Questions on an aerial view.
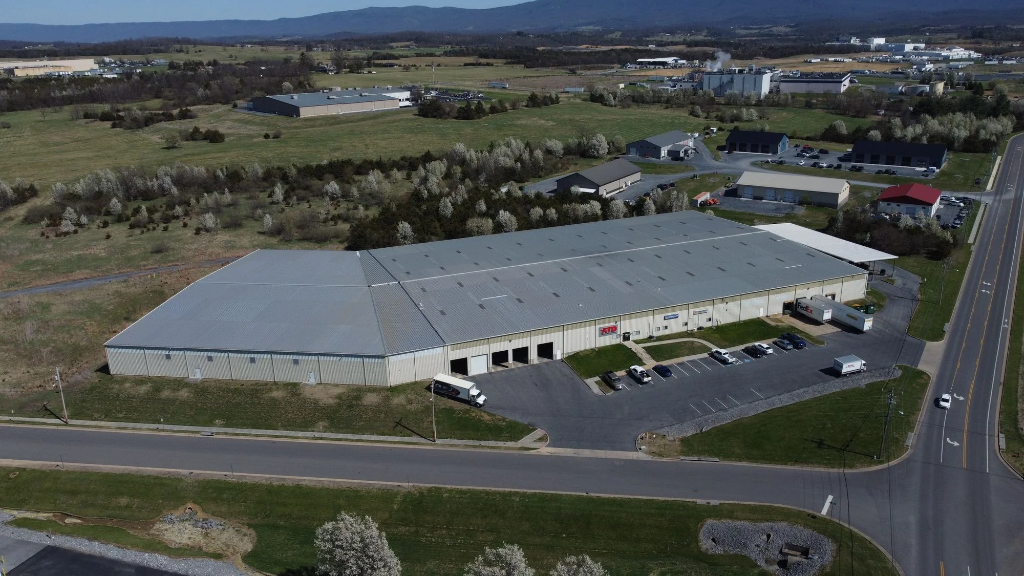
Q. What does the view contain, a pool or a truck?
truck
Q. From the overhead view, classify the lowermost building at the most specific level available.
warehouse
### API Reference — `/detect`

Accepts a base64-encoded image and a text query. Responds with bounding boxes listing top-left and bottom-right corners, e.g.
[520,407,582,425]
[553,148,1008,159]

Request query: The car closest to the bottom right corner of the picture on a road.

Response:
[938,391,952,409]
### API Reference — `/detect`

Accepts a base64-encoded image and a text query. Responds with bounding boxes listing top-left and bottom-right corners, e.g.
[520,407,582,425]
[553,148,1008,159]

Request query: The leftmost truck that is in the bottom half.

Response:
[431,378,485,411]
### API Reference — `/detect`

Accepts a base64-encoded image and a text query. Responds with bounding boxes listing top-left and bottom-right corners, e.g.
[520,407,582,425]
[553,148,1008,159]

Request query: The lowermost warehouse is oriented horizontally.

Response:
[104,210,869,386]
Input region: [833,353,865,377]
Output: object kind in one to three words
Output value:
truck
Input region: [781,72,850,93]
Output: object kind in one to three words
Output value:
building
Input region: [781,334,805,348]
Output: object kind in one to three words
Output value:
vehicle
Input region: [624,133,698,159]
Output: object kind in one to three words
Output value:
shed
